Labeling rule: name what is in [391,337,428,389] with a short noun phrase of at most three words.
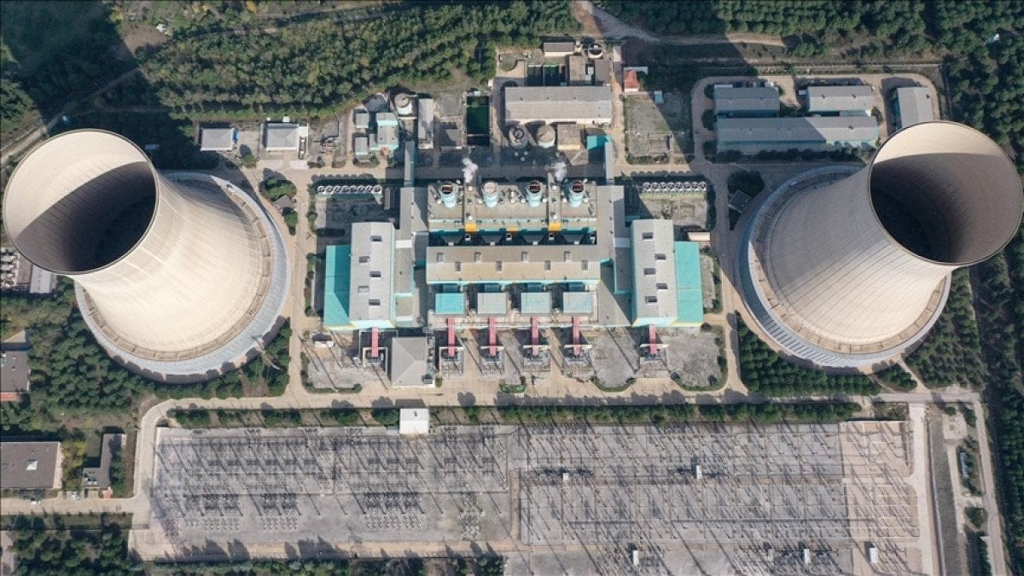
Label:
building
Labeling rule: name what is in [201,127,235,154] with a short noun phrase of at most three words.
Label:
house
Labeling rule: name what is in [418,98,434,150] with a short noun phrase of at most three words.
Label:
building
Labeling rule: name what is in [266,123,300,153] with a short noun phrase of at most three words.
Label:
house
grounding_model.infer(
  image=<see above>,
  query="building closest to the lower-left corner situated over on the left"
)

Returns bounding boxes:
[0,441,68,489]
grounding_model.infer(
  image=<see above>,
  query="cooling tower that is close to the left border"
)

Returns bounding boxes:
[2,126,290,381]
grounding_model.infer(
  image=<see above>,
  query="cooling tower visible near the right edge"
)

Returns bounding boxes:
[738,118,1024,374]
